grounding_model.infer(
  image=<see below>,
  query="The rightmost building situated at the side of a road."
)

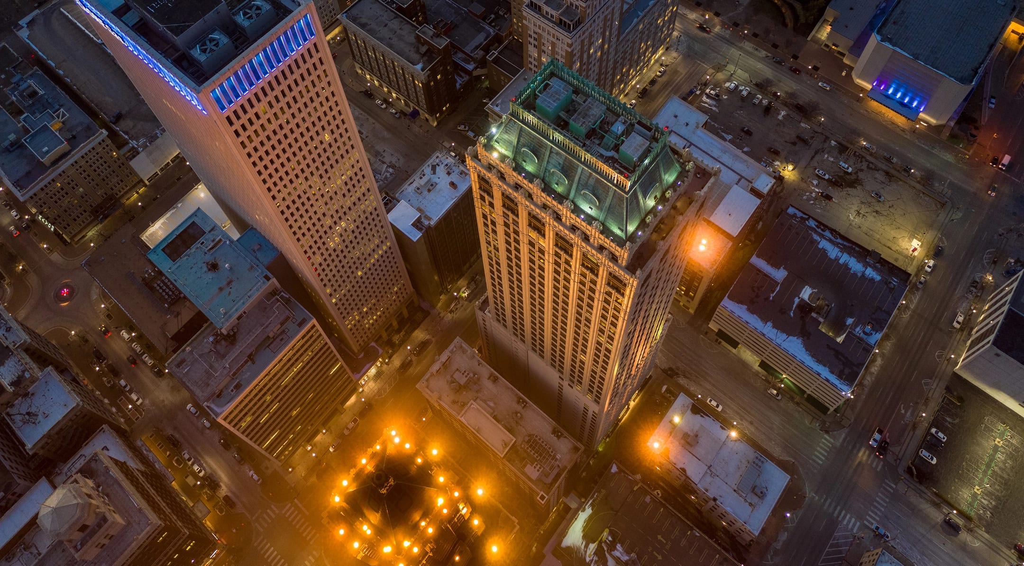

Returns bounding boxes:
[953,283,1024,414]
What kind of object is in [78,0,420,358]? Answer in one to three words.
building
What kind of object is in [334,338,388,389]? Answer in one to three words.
building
